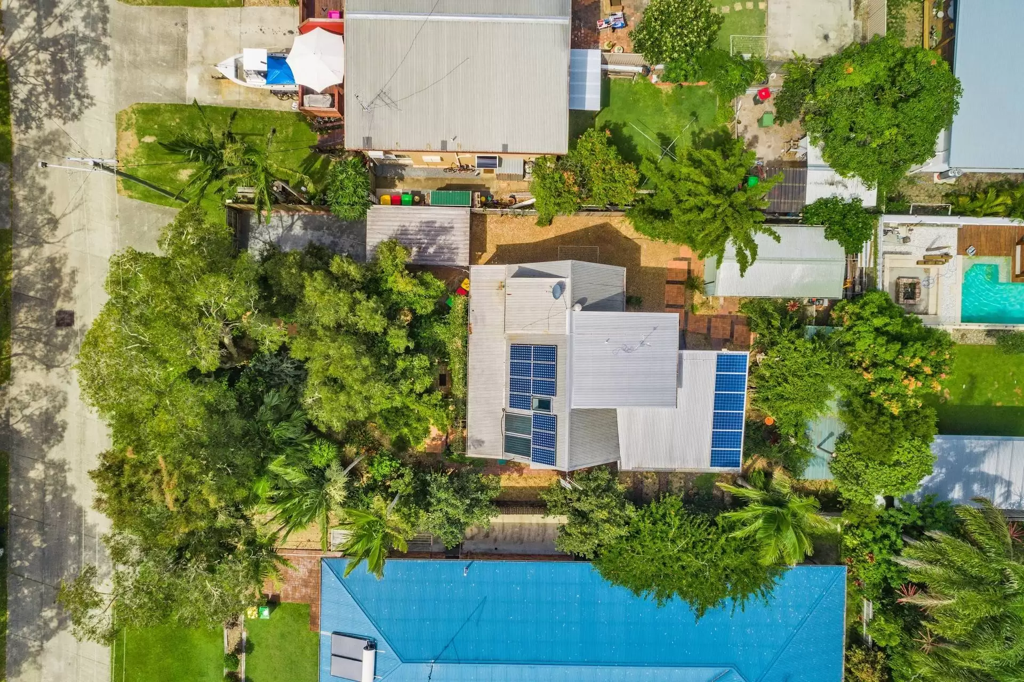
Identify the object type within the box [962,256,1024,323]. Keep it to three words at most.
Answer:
swimming pool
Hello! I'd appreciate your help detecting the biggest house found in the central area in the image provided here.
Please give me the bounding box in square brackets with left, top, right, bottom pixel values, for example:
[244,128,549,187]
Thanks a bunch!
[465,259,751,474]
